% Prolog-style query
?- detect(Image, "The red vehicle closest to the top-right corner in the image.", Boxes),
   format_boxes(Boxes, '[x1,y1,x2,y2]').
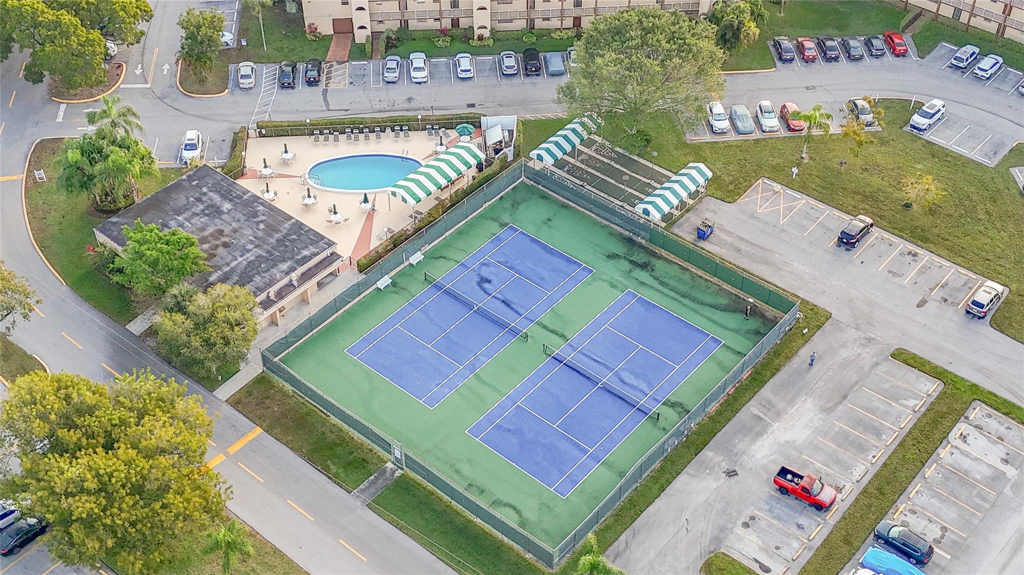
[882,32,908,57]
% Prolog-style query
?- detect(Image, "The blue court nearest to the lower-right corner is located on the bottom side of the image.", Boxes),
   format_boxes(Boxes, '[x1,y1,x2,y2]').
[466,288,723,498]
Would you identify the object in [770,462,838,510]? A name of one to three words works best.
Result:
truck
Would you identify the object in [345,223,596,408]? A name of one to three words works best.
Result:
tennis court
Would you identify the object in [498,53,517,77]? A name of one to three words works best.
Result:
car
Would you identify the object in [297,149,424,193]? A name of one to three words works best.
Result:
swimming pool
